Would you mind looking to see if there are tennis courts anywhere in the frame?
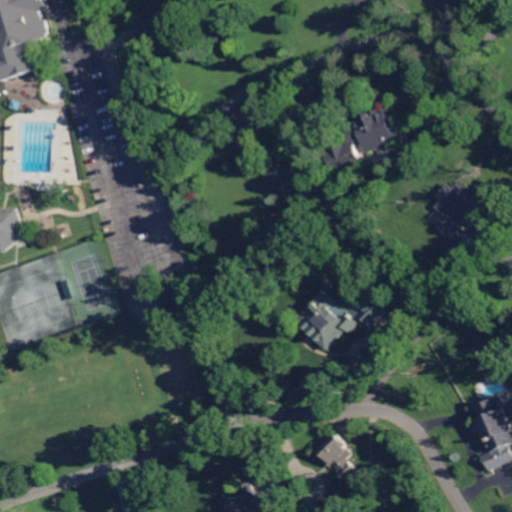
Yes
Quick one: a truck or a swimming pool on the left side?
swimming pool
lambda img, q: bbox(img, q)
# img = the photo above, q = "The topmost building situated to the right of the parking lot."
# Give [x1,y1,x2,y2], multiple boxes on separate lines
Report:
[326,112,398,166]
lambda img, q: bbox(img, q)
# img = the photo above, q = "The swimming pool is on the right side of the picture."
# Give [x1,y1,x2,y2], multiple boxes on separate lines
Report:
[474,381,510,402]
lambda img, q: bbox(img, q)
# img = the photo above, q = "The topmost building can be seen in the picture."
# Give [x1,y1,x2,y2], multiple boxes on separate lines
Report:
[0,0,50,84]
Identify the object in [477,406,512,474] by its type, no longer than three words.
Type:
house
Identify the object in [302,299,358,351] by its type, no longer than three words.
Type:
house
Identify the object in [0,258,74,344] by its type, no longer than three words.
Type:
sports court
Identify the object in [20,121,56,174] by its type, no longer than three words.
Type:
swimming pool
